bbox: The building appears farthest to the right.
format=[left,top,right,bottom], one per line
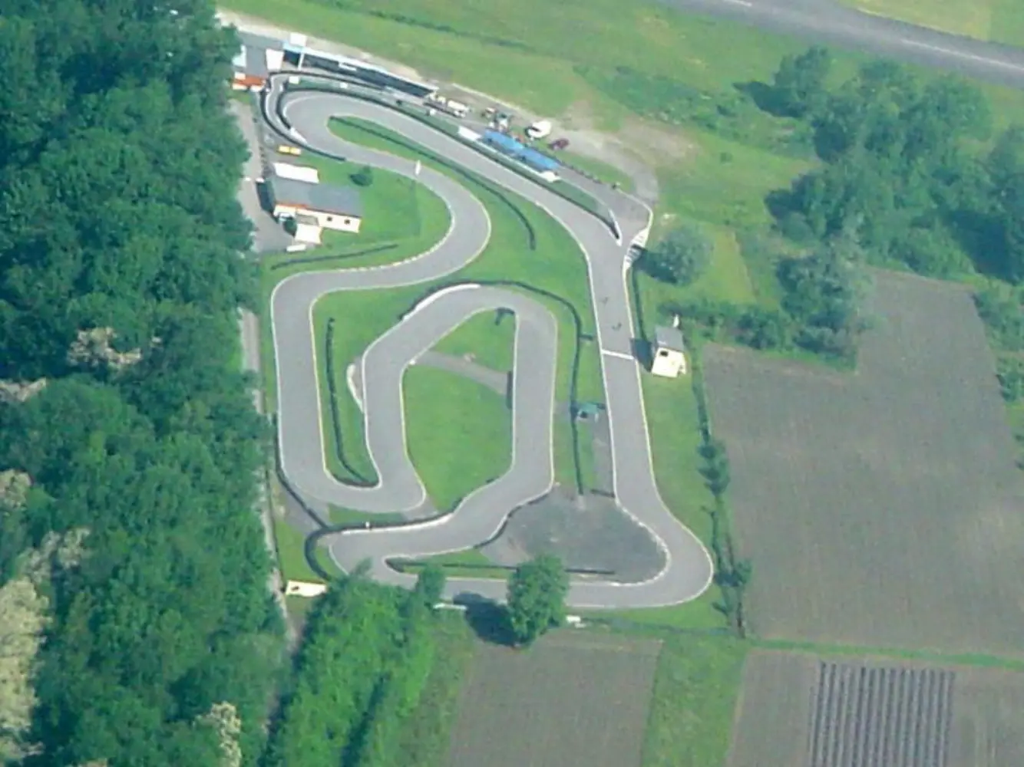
[653,327,688,377]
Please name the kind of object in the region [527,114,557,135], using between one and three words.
vehicle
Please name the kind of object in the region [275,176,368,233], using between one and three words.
building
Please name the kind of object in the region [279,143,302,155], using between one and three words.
vehicle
